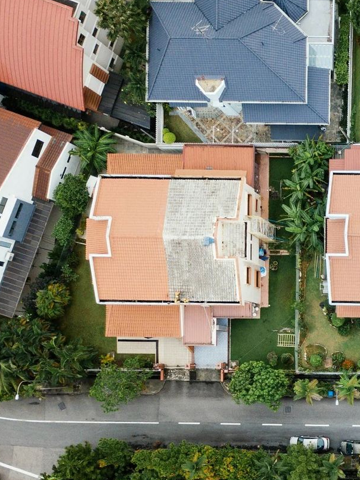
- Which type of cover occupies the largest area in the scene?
buildings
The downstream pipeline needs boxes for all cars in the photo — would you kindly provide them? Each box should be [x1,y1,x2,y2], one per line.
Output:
[291,434,331,451]
[341,437,360,457]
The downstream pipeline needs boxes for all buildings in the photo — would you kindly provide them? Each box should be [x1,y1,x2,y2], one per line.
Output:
[0,109,97,318]
[325,145,360,318]
[145,0,342,144]
[86,145,275,345]
[0,0,157,132]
